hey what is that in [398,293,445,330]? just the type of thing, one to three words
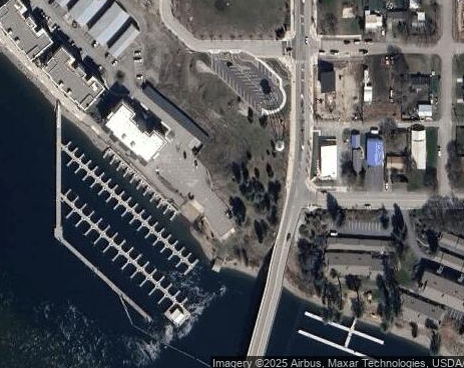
house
